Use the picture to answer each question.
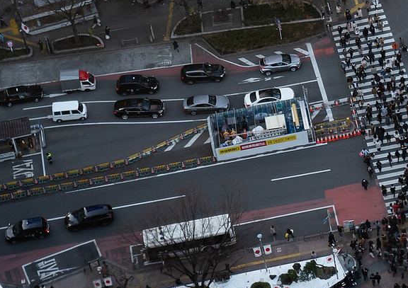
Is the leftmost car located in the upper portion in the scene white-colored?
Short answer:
No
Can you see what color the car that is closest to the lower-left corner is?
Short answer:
black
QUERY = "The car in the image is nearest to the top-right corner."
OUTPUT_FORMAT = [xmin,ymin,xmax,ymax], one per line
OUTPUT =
[255,50,303,75]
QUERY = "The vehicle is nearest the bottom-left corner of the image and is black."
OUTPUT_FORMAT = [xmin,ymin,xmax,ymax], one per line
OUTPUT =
[2,213,52,241]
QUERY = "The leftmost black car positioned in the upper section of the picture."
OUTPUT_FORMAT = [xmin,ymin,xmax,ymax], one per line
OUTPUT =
[0,82,45,106]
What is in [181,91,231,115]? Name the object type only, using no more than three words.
car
